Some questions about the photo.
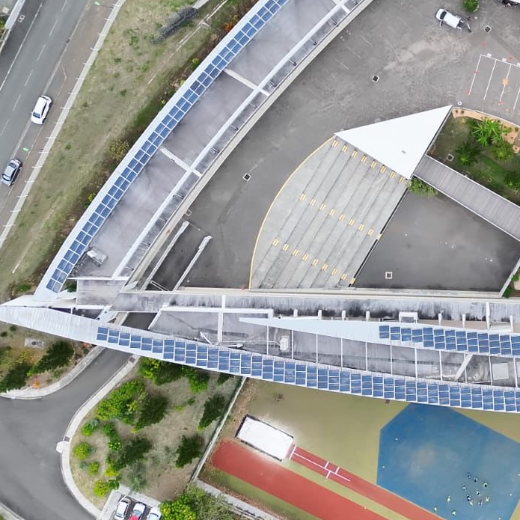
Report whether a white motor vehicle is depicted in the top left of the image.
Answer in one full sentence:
Yes, you'll find a white motor vehicle in the top left of the image.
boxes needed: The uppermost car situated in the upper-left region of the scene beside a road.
[30,96,53,125]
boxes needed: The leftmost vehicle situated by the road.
[1,159,23,186]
